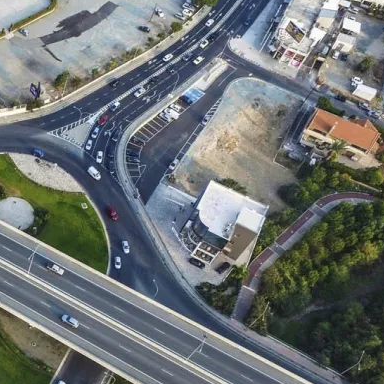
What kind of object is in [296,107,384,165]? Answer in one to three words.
house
